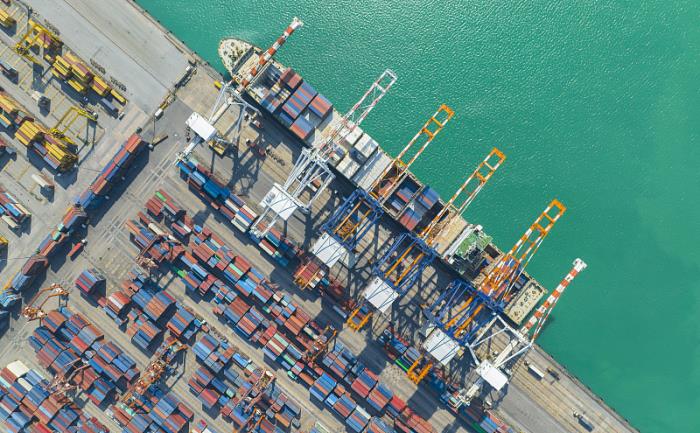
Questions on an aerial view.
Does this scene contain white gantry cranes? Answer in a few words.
Yes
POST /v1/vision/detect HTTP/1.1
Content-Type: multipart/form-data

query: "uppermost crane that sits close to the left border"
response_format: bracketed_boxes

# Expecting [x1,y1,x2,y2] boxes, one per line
[12,21,66,70]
